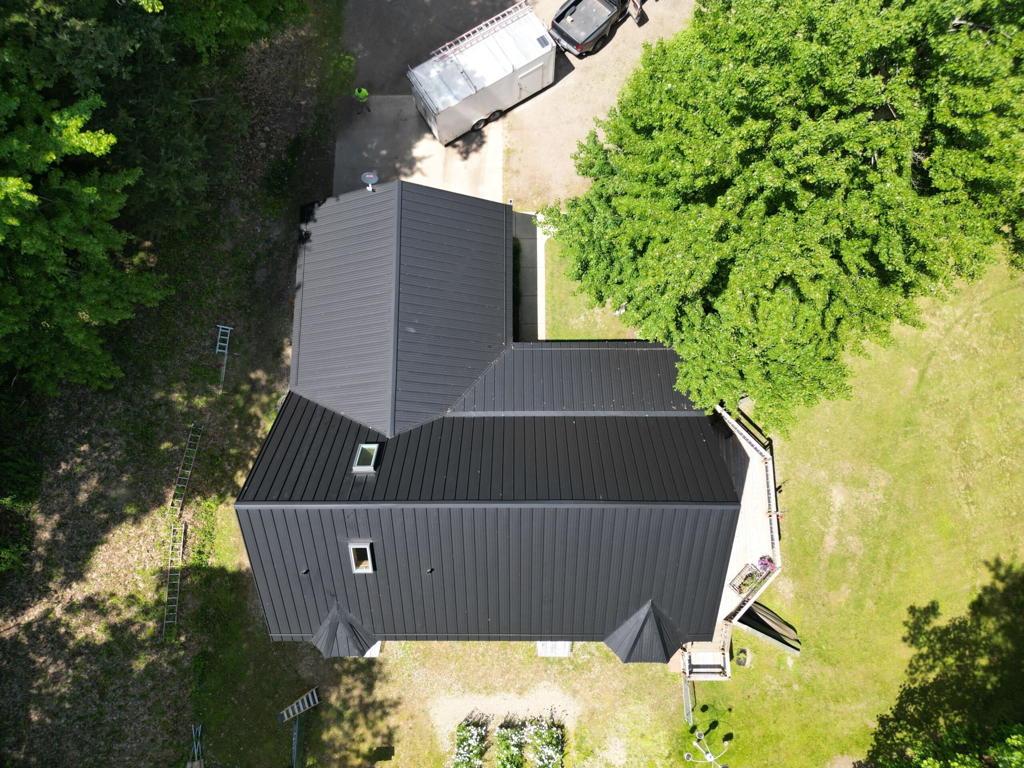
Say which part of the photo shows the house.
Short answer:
center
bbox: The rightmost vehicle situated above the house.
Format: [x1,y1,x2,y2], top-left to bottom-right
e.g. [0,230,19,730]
[549,0,644,58]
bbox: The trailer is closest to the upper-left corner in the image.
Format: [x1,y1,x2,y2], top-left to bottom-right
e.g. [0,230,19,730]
[406,7,560,144]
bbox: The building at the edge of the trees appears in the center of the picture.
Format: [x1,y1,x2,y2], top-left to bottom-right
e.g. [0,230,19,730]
[234,179,742,664]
